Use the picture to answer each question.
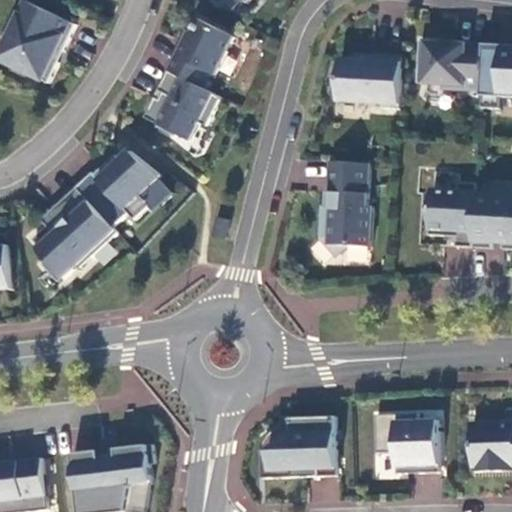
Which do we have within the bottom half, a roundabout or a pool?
roundabout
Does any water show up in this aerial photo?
No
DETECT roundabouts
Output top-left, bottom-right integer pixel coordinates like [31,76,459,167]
[136,268,314,445]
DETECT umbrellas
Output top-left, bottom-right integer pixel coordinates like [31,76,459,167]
[440,96,455,111]
[229,48,240,58]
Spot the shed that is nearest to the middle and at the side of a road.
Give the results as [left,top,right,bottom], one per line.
[215,209,236,236]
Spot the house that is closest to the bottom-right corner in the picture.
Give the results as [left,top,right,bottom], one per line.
[464,414,512,472]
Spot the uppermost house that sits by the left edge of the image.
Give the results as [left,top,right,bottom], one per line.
[0,2,73,84]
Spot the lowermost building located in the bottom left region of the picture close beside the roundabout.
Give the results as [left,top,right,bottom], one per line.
[63,444,161,512]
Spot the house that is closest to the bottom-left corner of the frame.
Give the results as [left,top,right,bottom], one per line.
[0,456,52,512]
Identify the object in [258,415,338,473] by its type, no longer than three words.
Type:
house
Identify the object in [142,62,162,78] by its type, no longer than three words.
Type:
car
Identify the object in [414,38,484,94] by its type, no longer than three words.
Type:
house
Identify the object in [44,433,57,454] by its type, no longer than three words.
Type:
vehicle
